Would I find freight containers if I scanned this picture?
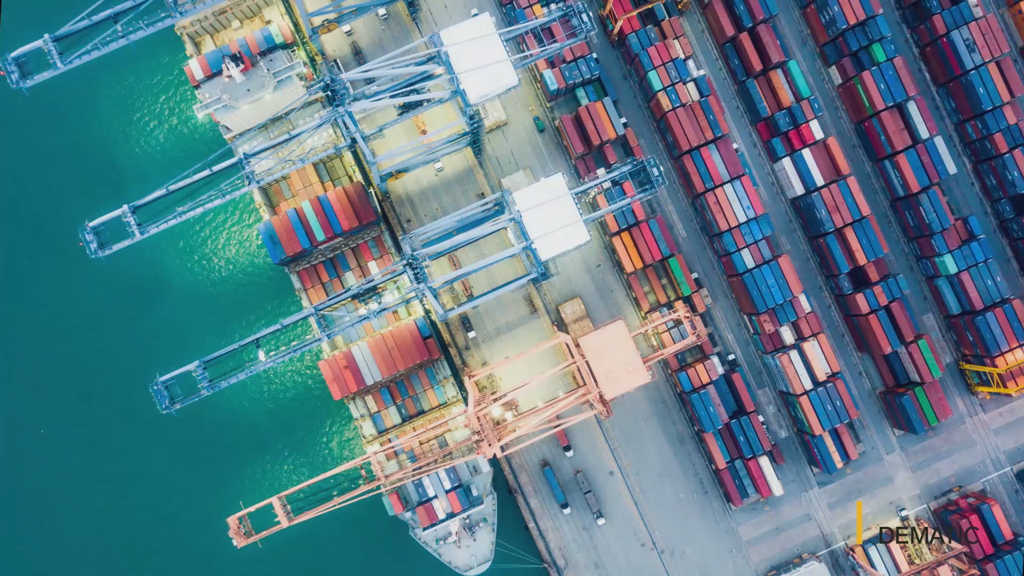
Yes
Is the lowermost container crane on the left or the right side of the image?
right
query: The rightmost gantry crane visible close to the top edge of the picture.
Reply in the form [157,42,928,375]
[600,0,694,48]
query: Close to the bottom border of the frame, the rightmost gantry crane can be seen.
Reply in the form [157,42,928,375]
[842,512,979,576]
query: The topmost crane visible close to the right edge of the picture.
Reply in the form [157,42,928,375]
[953,358,1024,399]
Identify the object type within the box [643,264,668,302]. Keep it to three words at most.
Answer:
shipping container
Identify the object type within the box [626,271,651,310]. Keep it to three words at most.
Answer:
shipping container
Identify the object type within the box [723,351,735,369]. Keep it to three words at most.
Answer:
vehicle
